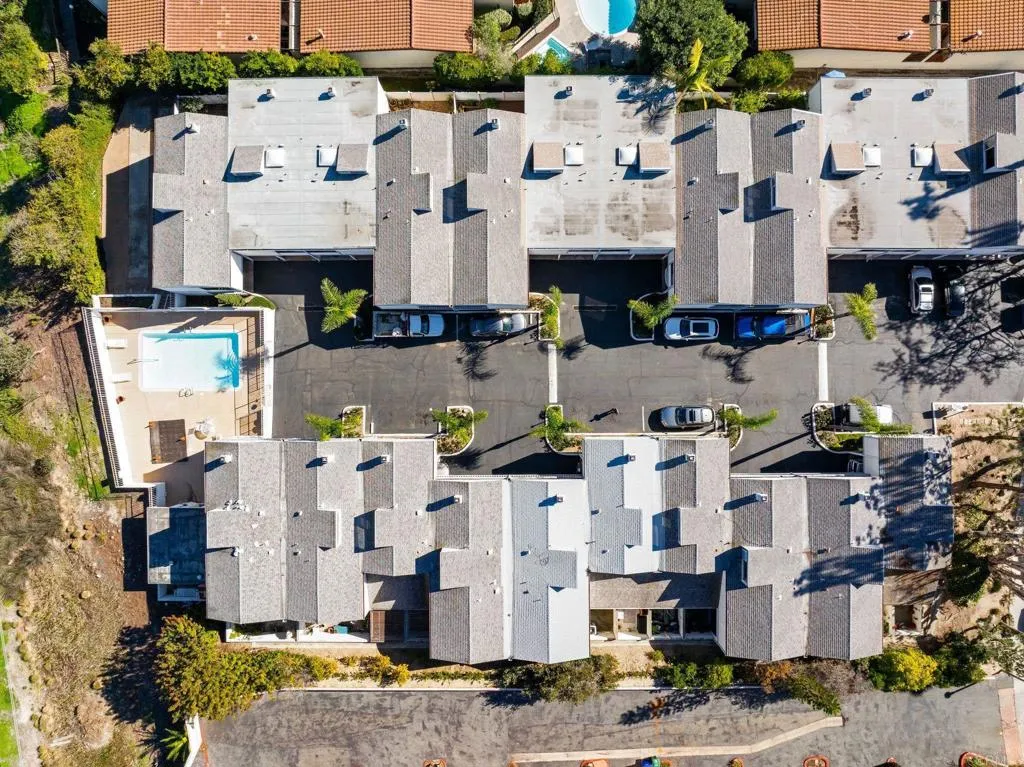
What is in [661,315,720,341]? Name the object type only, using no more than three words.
car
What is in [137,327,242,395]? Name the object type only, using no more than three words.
swimming pool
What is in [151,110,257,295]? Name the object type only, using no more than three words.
house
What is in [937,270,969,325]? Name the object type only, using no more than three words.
car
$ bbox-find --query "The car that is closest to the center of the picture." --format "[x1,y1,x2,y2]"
[470,312,528,338]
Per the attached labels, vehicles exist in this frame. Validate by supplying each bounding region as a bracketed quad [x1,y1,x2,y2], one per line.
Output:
[372,310,444,337]
[937,270,969,325]
[470,312,528,338]
[661,315,720,341]
[735,312,812,340]
[656,404,716,430]
[905,264,936,317]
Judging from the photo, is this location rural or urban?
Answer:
urban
